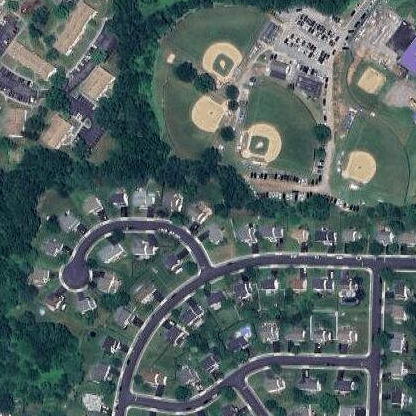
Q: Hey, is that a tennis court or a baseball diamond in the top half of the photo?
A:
baseball diamond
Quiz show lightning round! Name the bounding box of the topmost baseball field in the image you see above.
[203,43,242,88]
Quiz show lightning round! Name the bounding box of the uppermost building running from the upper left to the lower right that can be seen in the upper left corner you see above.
[9,41,55,78]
